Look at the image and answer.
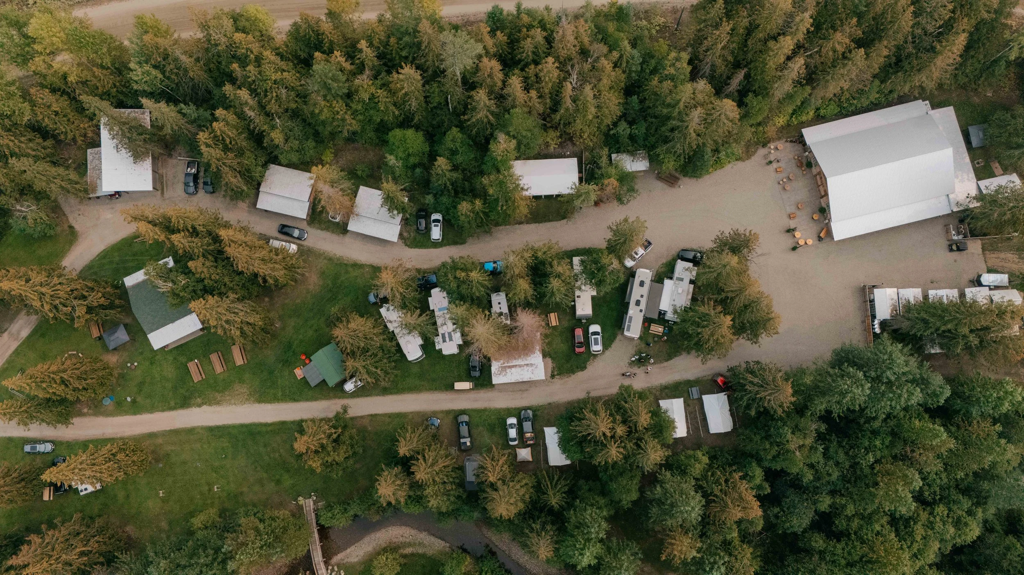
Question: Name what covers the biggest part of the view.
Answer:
trees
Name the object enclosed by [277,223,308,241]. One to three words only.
car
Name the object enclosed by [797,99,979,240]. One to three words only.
building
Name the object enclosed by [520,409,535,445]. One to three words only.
vehicle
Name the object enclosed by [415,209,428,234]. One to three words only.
vehicle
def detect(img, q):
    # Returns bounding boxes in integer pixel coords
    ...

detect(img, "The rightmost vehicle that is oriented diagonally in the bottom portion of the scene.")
[709,368,734,394]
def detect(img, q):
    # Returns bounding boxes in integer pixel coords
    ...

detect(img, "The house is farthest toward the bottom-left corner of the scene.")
[124,257,208,351]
